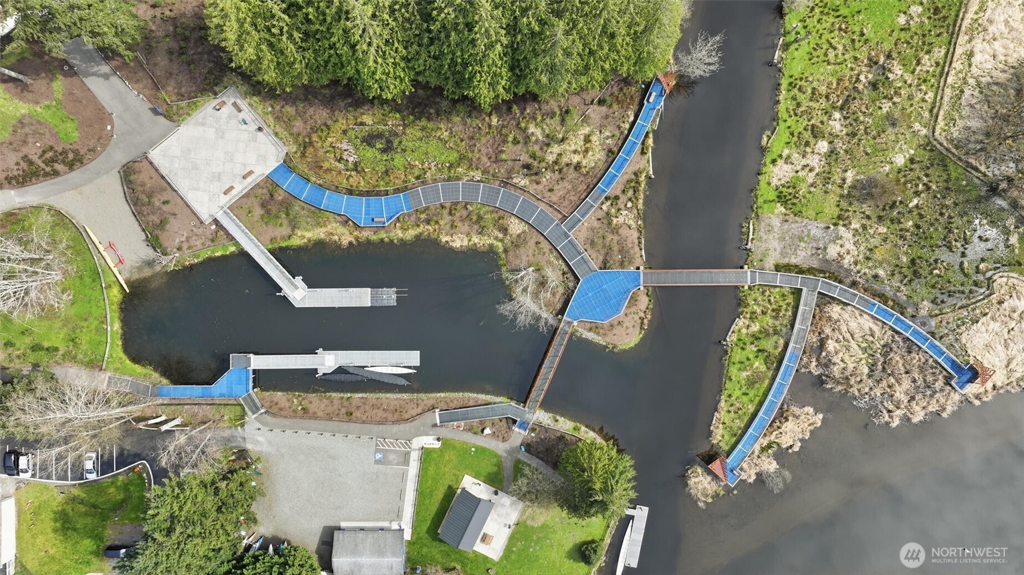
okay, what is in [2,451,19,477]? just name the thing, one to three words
car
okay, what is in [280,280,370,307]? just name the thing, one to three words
pier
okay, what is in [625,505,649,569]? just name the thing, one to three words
pier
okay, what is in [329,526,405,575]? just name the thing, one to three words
building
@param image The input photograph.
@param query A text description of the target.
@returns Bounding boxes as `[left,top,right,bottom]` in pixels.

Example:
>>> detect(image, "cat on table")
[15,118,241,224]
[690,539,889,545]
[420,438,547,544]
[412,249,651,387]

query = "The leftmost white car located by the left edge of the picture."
[18,451,35,478]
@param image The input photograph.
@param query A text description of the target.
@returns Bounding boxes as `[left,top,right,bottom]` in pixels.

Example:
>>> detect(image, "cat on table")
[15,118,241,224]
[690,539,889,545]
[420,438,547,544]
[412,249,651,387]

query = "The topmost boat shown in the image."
[83,224,129,292]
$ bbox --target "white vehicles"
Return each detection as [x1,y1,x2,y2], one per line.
[18,451,35,478]
[82,451,97,478]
